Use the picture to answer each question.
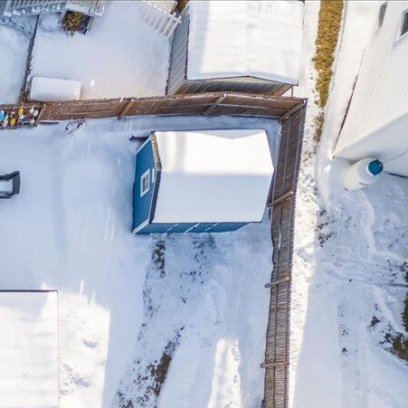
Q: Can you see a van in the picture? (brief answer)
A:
No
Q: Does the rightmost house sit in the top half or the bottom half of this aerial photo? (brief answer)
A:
top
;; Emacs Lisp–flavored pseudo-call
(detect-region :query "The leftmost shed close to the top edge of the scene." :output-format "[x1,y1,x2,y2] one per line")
[168,0,302,97]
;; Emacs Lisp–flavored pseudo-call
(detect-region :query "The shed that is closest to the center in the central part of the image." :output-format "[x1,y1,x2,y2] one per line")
[135,129,273,233]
